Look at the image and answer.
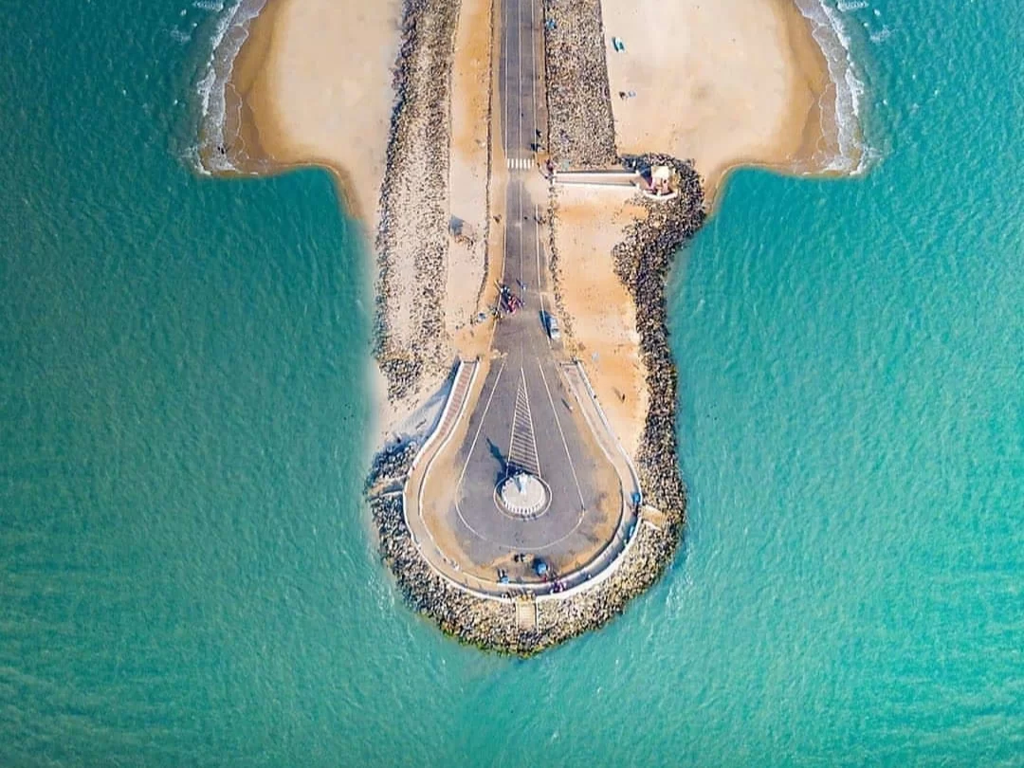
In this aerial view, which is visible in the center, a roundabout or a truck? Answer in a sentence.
The one visible in the center is a roundabout.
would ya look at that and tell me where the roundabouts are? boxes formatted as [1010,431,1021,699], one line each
[445,346,617,581]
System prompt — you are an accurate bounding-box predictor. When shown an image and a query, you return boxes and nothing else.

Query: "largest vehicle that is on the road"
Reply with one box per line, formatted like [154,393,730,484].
[548,318,560,336]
